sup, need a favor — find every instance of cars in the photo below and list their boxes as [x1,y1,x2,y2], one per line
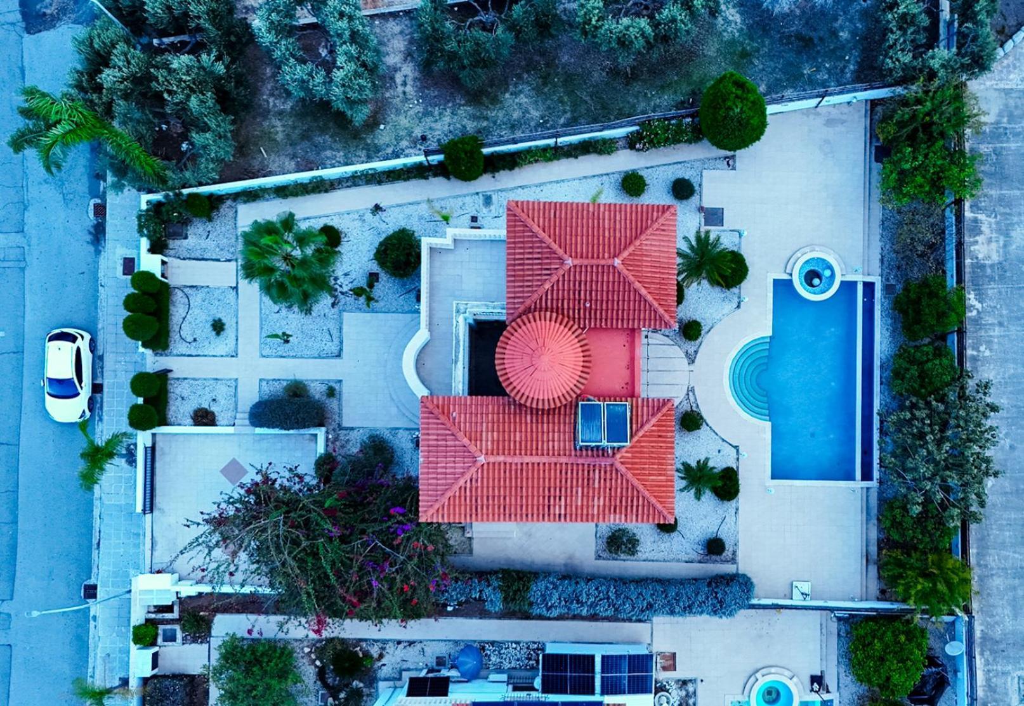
[42,329,95,424]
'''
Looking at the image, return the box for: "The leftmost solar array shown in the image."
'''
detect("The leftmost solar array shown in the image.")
[407,675,449,698]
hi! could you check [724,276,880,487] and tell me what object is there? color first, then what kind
blue swimming pool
